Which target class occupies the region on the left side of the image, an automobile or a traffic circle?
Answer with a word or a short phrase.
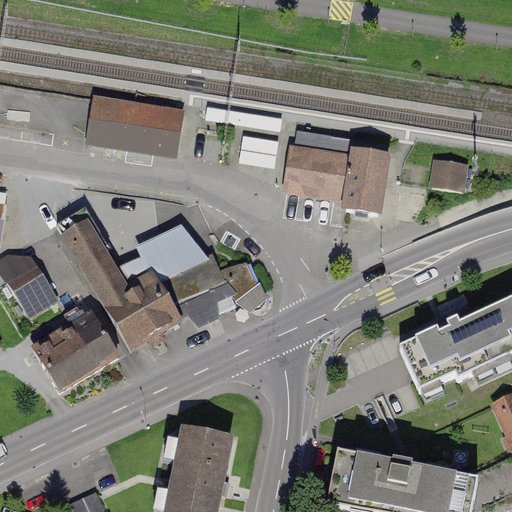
automobile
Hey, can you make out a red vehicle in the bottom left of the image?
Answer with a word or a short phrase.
Yes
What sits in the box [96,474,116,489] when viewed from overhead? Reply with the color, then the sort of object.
blue car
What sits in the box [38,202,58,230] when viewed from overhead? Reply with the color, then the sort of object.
white vehicle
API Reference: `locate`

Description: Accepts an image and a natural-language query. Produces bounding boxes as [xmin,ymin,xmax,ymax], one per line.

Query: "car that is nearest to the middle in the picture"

[242,236,262,258]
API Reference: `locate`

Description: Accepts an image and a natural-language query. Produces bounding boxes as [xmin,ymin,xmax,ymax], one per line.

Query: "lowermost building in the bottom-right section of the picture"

[326,446,481,512]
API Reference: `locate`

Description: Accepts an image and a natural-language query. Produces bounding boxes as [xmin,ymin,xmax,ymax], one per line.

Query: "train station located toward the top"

[282,130,391,222]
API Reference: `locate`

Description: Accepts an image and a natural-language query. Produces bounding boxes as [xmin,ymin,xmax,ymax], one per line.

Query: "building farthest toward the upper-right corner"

[428,160,469,194]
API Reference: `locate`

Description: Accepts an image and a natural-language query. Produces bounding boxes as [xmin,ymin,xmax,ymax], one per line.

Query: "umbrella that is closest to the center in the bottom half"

[236,308,250,322]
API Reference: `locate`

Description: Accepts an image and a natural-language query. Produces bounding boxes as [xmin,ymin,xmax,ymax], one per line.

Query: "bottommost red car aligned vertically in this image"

[314,446,326,469]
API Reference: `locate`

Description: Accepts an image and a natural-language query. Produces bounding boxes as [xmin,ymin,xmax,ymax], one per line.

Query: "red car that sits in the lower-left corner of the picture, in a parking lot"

[24,494,48,510]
